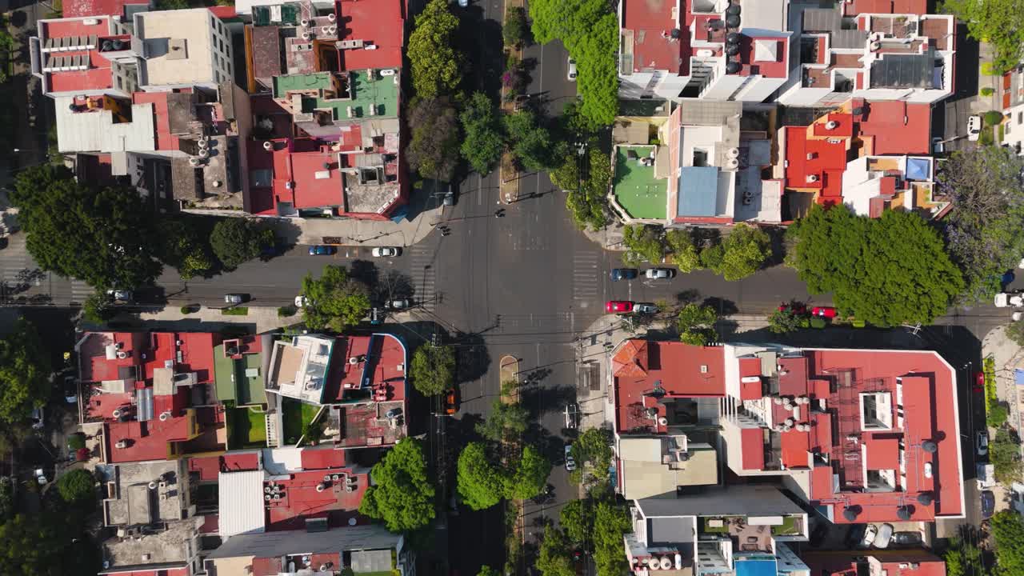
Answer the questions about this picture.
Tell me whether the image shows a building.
Yes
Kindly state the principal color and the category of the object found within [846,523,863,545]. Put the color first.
black car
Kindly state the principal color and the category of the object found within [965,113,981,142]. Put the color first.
white vehicle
